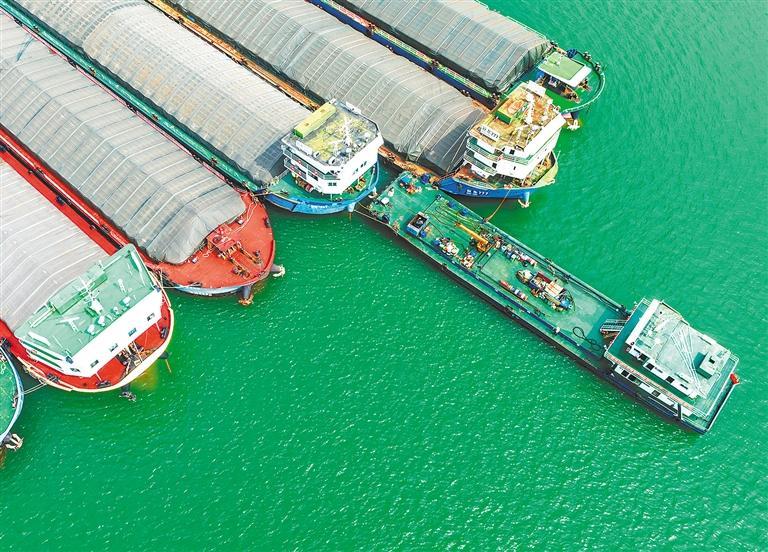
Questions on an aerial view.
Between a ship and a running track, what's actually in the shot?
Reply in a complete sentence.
It is a ship that can be seen here.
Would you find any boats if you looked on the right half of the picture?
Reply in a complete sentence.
Yes, looking on the right half of the picture, one can make out a boat.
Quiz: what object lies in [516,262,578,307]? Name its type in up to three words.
boat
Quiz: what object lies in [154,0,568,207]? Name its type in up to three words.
ship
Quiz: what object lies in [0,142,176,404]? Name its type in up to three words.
ship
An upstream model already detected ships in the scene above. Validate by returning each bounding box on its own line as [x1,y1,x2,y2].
[364,172,742,434]
[0,142,176,404]
[154,0,568,207]
[0,335,30,454]
[0,9,282,302]
[0,0,381,220]
[313,0,606,130]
